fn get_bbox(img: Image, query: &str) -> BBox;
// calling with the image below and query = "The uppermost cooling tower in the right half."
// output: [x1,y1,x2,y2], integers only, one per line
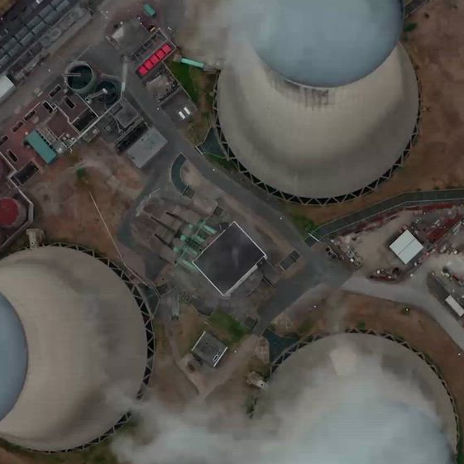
[216,0,426,202]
